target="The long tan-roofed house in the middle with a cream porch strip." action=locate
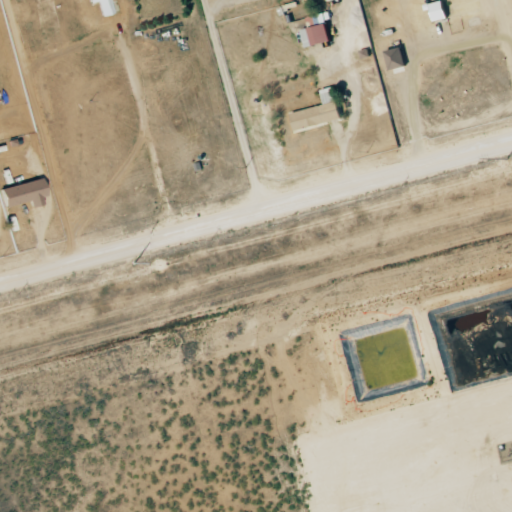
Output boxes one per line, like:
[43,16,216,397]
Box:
[289,102,339,135]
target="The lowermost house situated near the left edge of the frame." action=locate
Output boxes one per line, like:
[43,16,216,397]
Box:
[1,178,49,208]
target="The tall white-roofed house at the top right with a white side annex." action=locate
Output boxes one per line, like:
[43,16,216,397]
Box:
[422,0,446,22]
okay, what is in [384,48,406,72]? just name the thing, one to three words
house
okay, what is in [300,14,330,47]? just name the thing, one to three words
house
